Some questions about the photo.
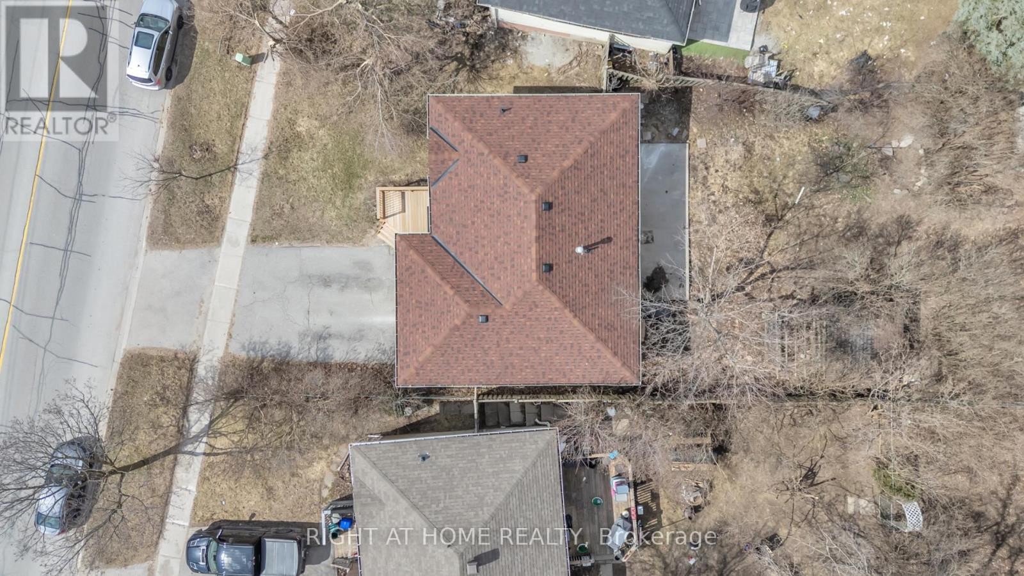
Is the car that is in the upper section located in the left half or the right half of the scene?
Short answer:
left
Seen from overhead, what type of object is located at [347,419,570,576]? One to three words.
house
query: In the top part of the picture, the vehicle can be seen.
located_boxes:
[124,0,183,92]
